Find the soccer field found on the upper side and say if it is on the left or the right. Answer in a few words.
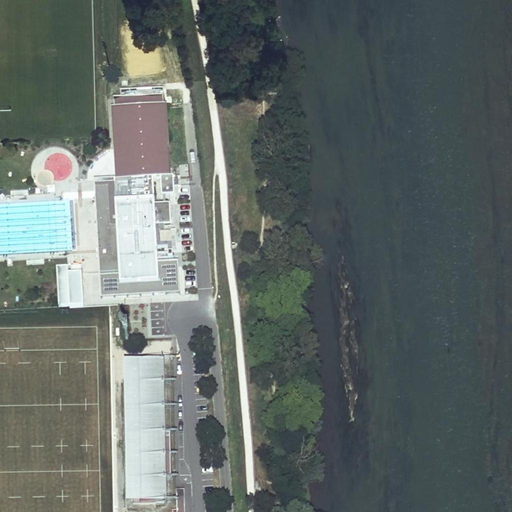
left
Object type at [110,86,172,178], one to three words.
building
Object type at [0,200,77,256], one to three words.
swimming pool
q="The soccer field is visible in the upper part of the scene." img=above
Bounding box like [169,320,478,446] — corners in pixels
[0,0,97,127]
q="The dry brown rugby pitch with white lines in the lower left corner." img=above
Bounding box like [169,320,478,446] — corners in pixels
[0,325,102,512]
